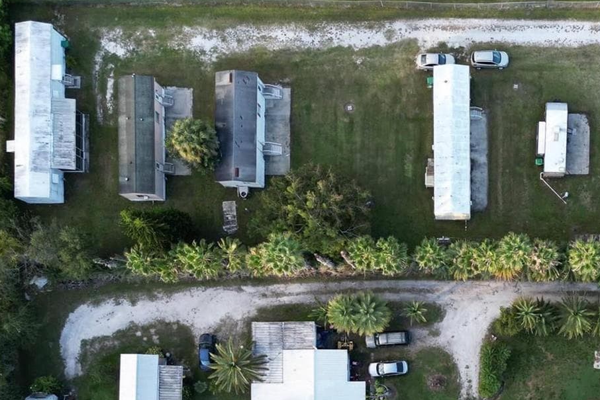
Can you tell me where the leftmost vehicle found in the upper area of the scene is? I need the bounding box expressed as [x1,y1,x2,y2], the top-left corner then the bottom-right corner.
[415,52,454,71]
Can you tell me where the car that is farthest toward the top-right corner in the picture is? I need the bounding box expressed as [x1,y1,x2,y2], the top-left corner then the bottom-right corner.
[470,49,508,70]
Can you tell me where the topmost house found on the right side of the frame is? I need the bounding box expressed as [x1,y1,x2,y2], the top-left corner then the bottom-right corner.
[426,61,470,224]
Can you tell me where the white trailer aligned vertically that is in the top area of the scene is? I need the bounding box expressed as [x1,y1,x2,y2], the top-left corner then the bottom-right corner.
[536,104,567,189]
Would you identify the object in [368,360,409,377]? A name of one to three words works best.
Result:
car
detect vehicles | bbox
[367,331,410,349]
[197,331,215,370]
[368,360,409,377]
[470,49,508,70]
[415,52,454,71]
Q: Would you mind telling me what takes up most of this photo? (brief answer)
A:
grass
